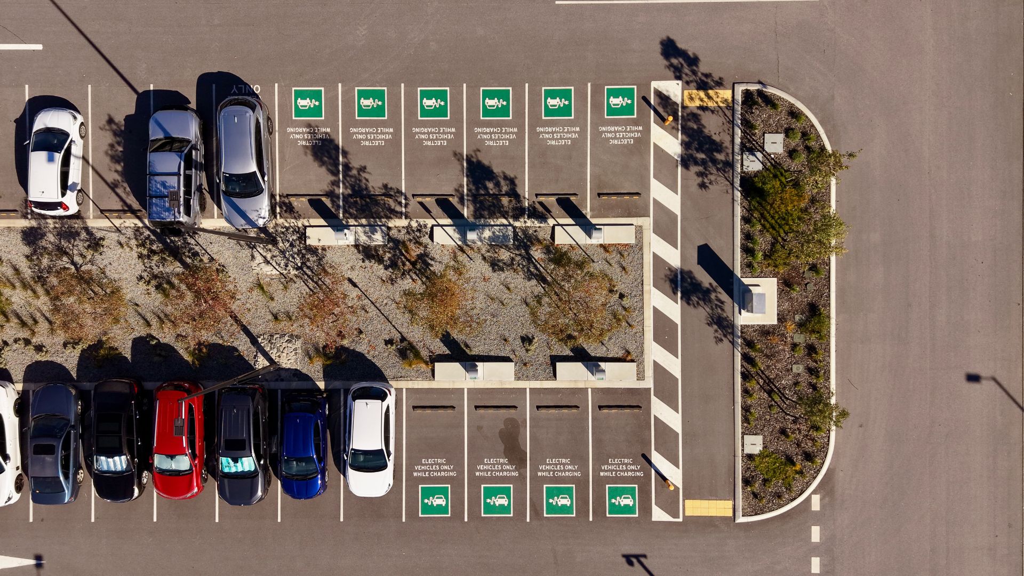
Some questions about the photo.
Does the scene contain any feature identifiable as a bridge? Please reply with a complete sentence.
No, no bridge can be seen from above.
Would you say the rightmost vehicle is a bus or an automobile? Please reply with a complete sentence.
What you see as the rightmost vehicle is an automobile.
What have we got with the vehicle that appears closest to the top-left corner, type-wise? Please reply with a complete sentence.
The vehicle that appears closest to the top-left corner appears to be an automobile.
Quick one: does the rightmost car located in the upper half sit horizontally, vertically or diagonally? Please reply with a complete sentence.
In this picture, the rightmost car located in the upper half lies vertically.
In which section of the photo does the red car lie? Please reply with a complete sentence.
The red car is in the bottom left part of the image.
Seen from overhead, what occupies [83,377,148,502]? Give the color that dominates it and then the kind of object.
black car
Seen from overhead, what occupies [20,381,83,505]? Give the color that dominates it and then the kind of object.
black car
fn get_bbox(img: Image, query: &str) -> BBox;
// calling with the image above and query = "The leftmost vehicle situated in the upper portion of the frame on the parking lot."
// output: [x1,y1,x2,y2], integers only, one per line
[23,107,86,216]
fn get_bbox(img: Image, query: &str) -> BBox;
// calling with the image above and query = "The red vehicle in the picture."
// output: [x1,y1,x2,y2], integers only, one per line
[144,378,207,499]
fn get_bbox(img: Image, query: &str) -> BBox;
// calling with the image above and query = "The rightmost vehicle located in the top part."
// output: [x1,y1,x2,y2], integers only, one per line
[216,100,275,229]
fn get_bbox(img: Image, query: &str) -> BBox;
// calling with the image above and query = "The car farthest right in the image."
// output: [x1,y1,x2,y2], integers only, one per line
[342,380,397,496]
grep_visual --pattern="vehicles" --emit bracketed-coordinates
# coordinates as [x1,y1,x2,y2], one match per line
[20,381,83,505]
[23,107,86,216]
[83,377,148,502]
[273,393,328,498]
[142,105,206,232]
[0,381,24,505]
[210,380,271,505]
[342,380,397,496]
[216,100,275,229]
[144,378,207,499]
